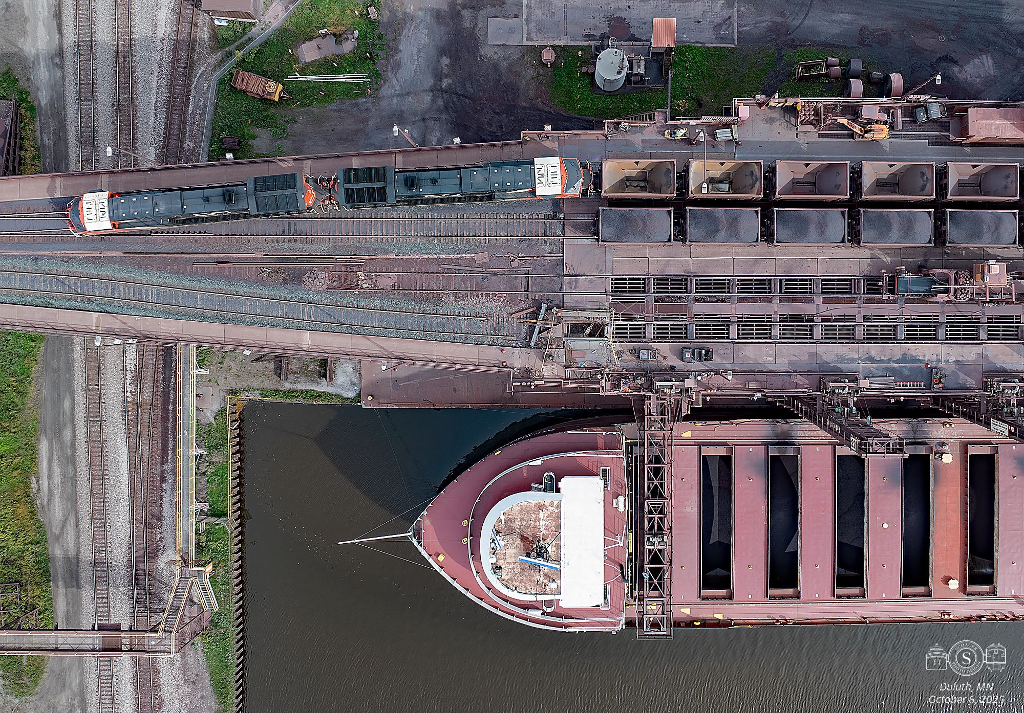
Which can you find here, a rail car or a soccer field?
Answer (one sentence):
Of the two, only a rail car appears.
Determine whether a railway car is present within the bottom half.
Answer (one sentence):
No, looking within the bottom half, there is no railway car.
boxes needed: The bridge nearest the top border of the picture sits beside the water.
[0,134,562,385]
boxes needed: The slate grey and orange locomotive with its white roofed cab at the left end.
[60,172,338,241]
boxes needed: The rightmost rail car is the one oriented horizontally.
[328,158,600,216]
